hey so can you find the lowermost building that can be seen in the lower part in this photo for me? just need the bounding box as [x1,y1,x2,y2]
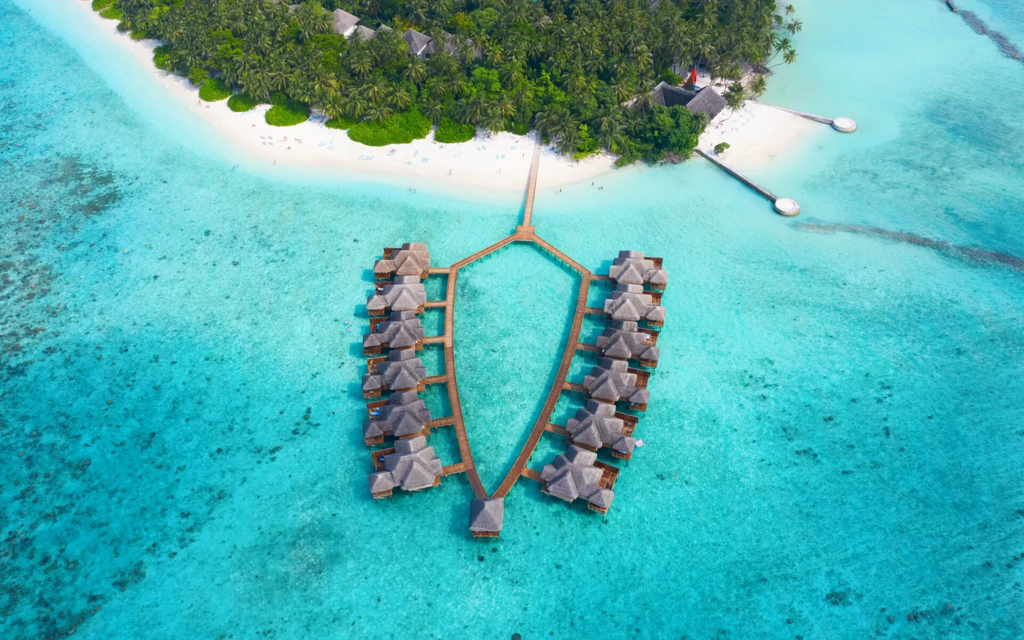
[469,498,504,549]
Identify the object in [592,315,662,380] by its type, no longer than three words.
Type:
house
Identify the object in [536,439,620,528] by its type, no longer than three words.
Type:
house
